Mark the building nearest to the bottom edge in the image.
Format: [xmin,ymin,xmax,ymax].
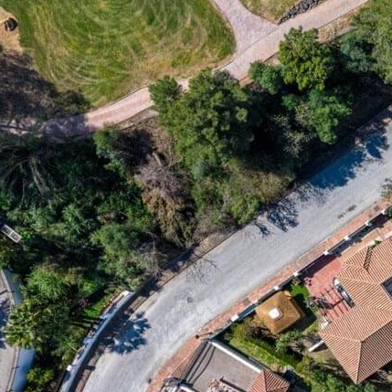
[180,337,293,392]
